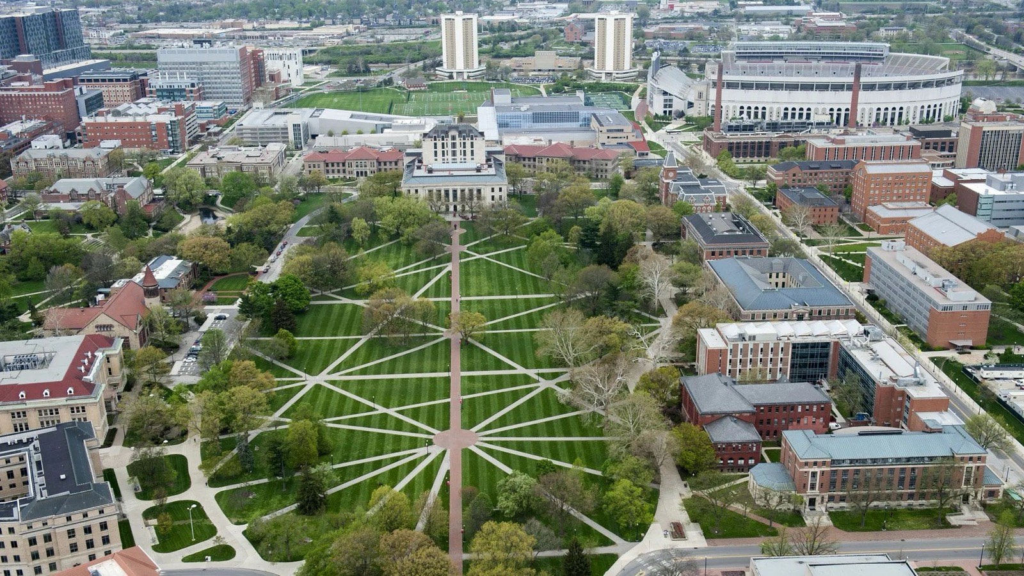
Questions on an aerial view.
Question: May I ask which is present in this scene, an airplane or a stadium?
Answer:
stadium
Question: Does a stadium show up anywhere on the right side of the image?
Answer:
Yes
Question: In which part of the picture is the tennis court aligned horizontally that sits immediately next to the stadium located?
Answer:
top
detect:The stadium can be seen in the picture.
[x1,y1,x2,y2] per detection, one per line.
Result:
[645,41,967,126]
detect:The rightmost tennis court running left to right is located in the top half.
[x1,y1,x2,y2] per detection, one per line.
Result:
[579,91,633,111]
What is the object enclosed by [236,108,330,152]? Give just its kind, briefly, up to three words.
building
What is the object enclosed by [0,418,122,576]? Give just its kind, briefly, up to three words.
building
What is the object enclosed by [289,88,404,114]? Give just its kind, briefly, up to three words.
sports field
